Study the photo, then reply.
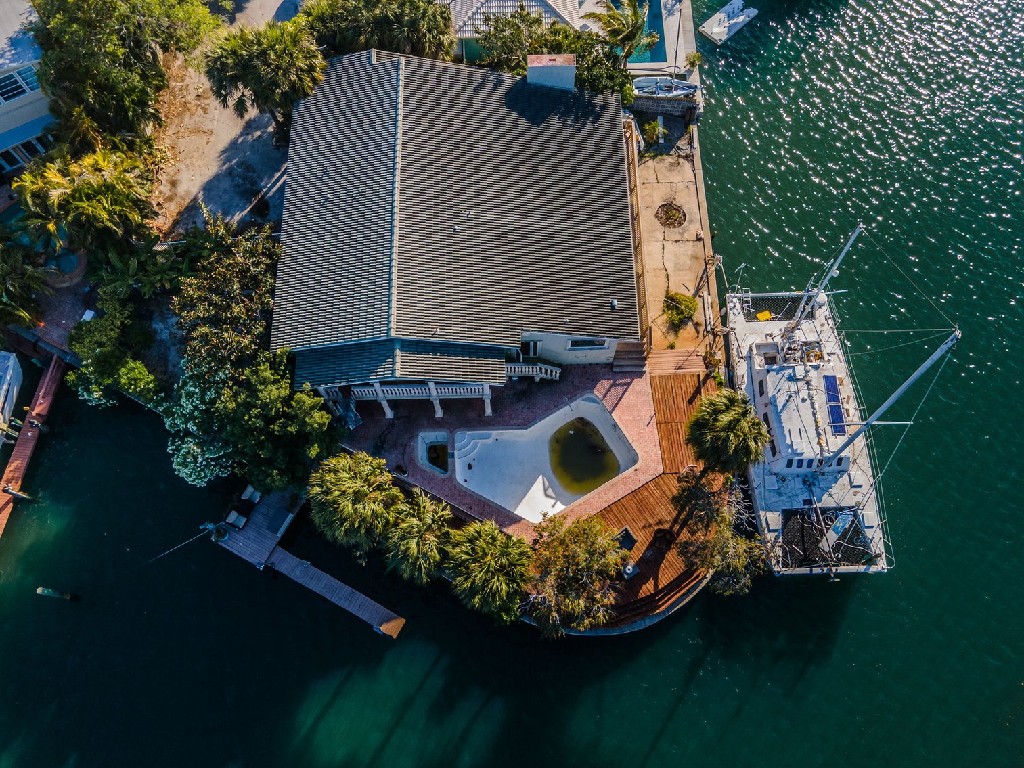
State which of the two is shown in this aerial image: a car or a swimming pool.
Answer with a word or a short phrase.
swimming pool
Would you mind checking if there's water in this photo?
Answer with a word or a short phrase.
Yes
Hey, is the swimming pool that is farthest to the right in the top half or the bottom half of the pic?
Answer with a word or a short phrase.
top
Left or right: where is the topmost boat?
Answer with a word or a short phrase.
right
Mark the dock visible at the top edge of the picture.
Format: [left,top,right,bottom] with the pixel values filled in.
[697,0,758,49]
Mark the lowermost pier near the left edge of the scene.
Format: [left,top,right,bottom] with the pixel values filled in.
[0,358,68,559]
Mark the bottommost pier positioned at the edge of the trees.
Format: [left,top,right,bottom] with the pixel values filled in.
[215,483,409,641]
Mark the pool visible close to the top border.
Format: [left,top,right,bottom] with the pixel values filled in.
[613,0,671,65]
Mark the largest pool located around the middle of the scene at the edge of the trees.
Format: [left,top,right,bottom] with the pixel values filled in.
[447,389,645,529]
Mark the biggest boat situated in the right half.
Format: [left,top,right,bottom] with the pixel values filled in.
[720,213,969,583]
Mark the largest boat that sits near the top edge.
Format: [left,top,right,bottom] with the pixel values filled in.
[634,9,702,97]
